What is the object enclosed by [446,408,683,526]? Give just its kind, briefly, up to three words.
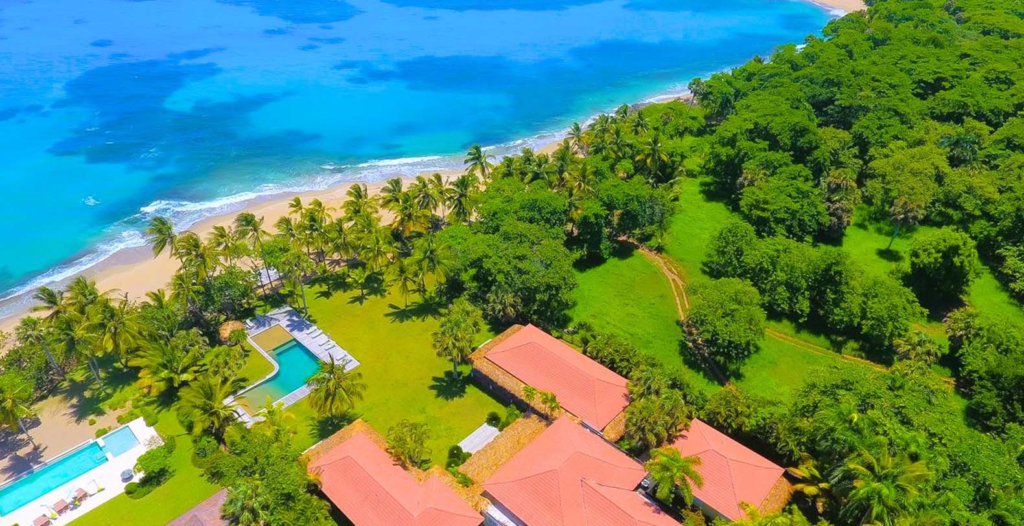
house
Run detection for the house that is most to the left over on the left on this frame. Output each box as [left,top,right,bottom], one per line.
[169,488,259,526]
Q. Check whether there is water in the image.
Yes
